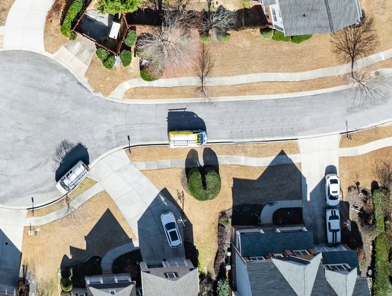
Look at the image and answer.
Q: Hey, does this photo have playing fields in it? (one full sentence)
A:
No, the photo shows no playing field.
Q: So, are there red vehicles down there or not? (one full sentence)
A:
No, no red vehicle is visible in the scene.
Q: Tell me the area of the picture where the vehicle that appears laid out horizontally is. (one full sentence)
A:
The vehicle that appears laid out horizontally is located in the center region of the scene.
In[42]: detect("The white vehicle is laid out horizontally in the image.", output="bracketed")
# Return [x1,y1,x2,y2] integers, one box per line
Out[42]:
[167,128,208,148]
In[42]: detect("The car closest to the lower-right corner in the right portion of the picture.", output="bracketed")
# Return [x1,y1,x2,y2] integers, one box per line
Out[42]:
[323,208,342,243]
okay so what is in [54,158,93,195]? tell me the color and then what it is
white van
